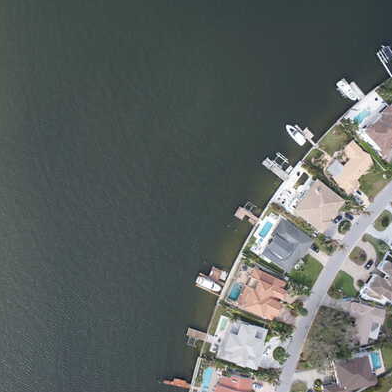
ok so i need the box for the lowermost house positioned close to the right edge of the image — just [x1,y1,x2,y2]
[322,353,375,392]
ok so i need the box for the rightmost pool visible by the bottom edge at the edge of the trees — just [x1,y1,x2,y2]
[369,349,385,373]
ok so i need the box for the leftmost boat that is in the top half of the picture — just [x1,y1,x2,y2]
[285,125,306,147]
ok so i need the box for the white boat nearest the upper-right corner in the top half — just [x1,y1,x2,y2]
[334,80,359,100]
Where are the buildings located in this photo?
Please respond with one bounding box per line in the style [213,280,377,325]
[322,353,375,392]
[360,105,392,159]
[211,371,253,392]
[324,140,372,195]
[257,218,314,271]
[241,266,289,319]
[362,254,392,301]
[348,300,386,345]
[293,181,345,232]
[218,322,265,368]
